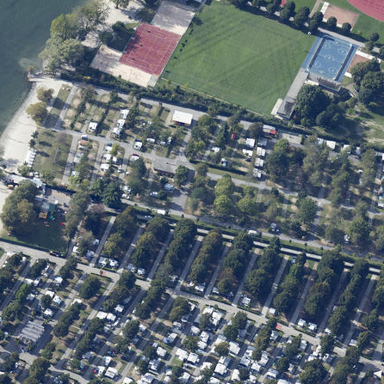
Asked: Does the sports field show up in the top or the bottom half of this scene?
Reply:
top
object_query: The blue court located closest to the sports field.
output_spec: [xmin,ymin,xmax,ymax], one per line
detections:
[301,34,359,83]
